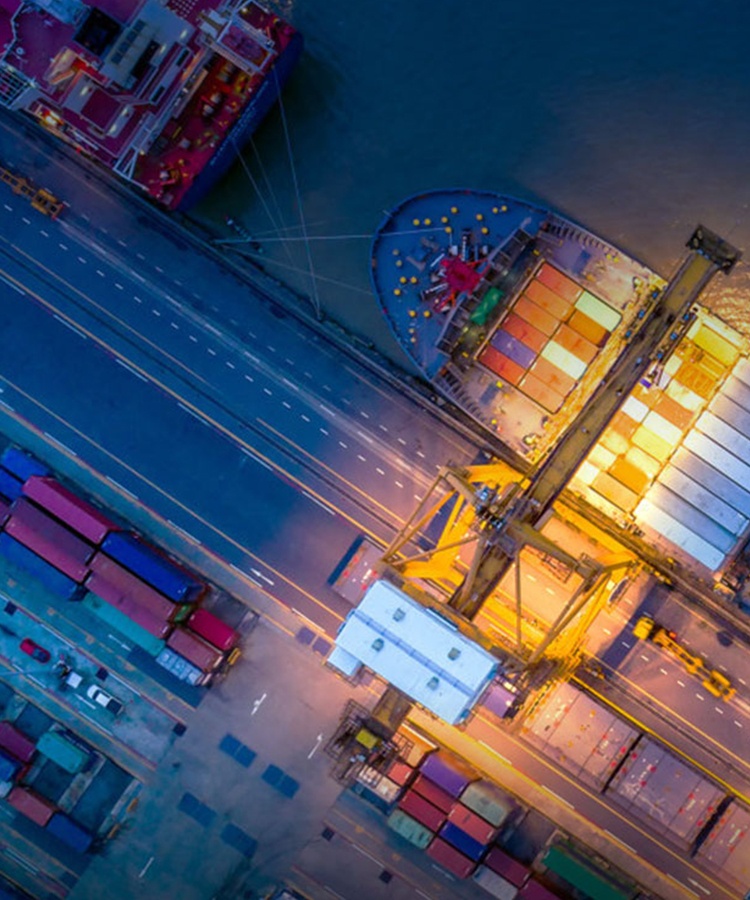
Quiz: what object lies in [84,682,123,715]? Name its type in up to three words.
truck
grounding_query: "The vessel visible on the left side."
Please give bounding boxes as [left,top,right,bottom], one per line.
[0,0,296,202]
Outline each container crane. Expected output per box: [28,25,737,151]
[305,215,746,788]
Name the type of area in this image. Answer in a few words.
port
